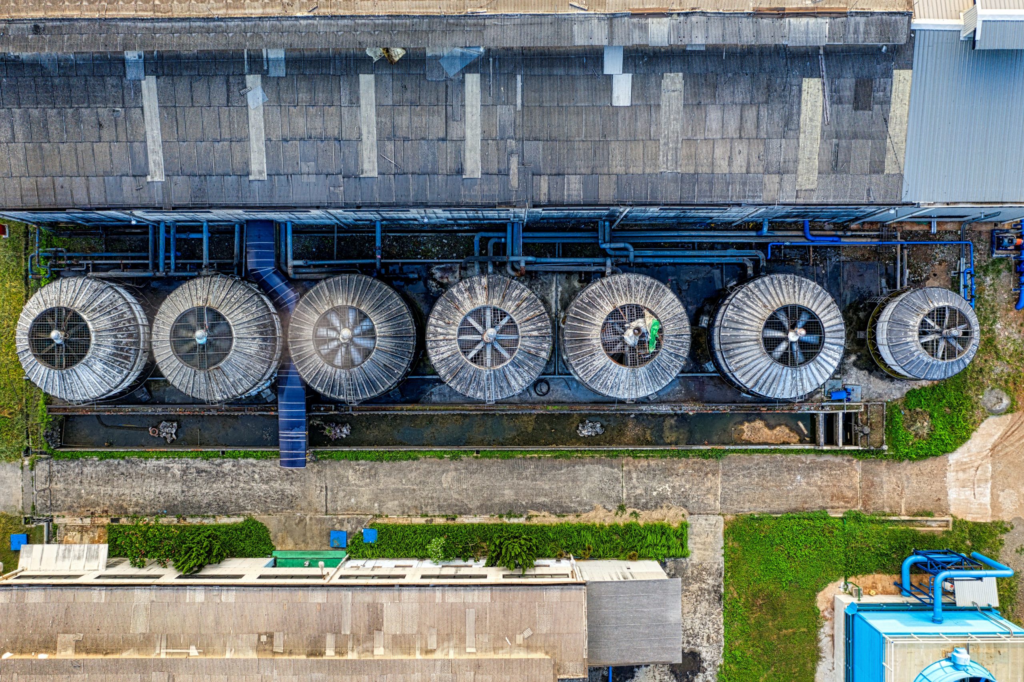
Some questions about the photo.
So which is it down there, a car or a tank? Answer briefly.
tank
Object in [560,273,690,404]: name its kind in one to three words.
cooling tower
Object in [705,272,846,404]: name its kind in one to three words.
cooling tower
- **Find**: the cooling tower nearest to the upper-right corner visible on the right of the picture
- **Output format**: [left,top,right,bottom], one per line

[860,286,981,381]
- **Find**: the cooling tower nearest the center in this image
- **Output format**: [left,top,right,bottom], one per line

[426,274,553,405]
